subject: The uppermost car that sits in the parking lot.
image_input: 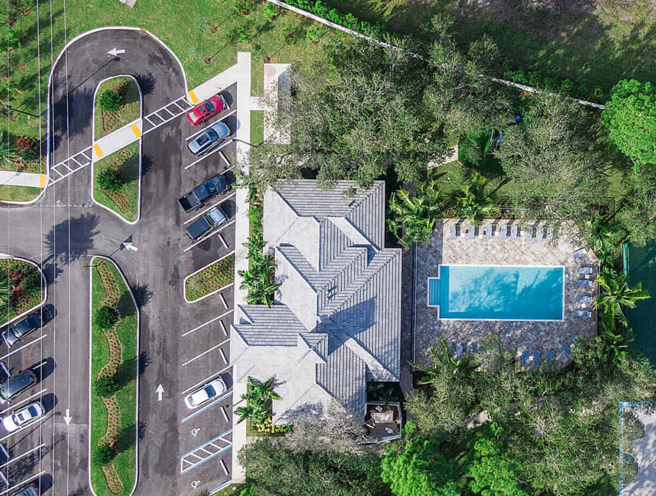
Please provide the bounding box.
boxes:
[185,95,228,127]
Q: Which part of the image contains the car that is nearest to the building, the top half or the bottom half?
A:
bottom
